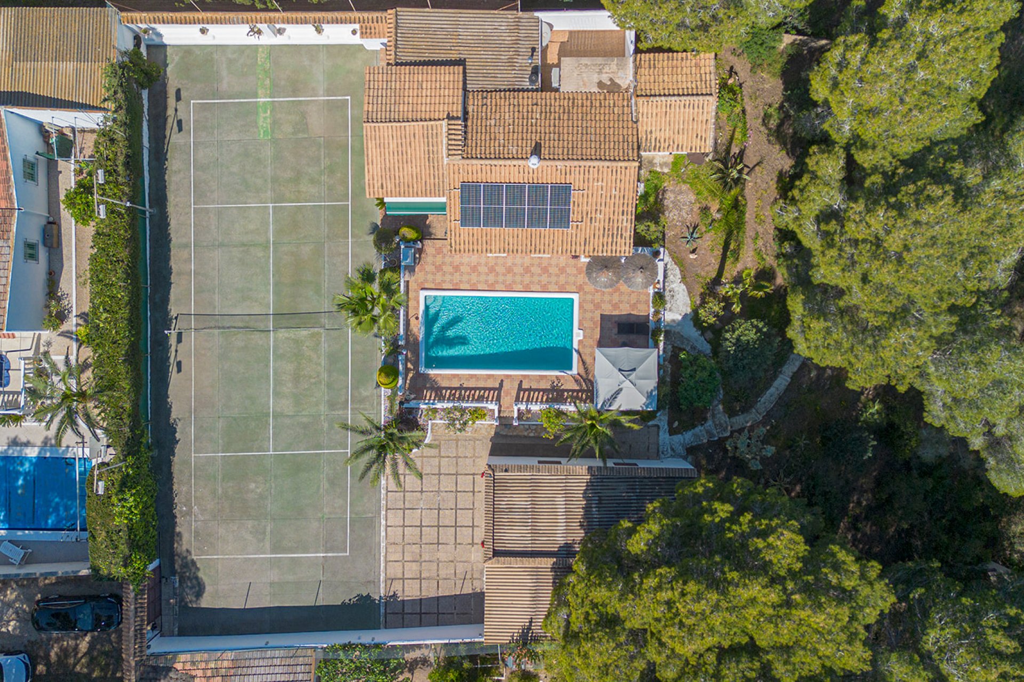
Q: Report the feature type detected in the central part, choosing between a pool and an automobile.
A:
pool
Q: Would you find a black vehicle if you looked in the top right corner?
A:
No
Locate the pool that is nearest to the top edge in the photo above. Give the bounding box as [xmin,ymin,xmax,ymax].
[420,291,582,377]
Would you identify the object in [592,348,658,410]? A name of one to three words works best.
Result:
gazebo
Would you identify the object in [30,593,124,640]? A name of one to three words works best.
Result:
car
